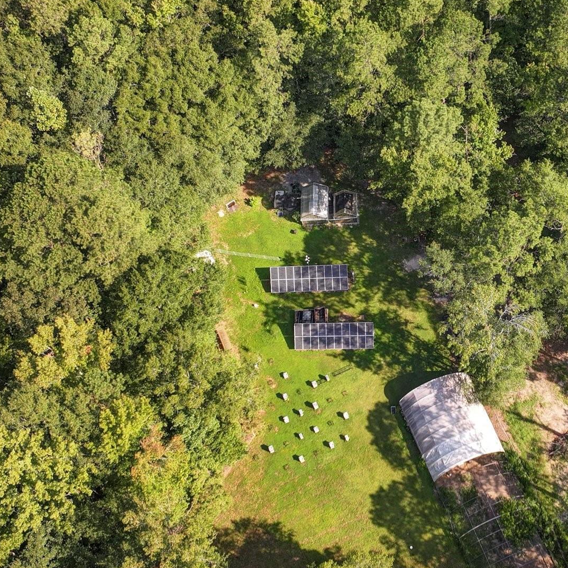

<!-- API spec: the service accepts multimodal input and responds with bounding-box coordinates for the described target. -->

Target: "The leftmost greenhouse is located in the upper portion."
[300,183,330,226]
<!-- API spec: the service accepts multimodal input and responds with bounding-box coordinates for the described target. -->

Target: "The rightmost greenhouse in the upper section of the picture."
[329,189,359,224]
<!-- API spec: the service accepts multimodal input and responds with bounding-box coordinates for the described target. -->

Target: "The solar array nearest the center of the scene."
[271,265,349,293]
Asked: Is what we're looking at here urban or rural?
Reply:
rural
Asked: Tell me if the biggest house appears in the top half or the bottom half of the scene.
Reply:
bottom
